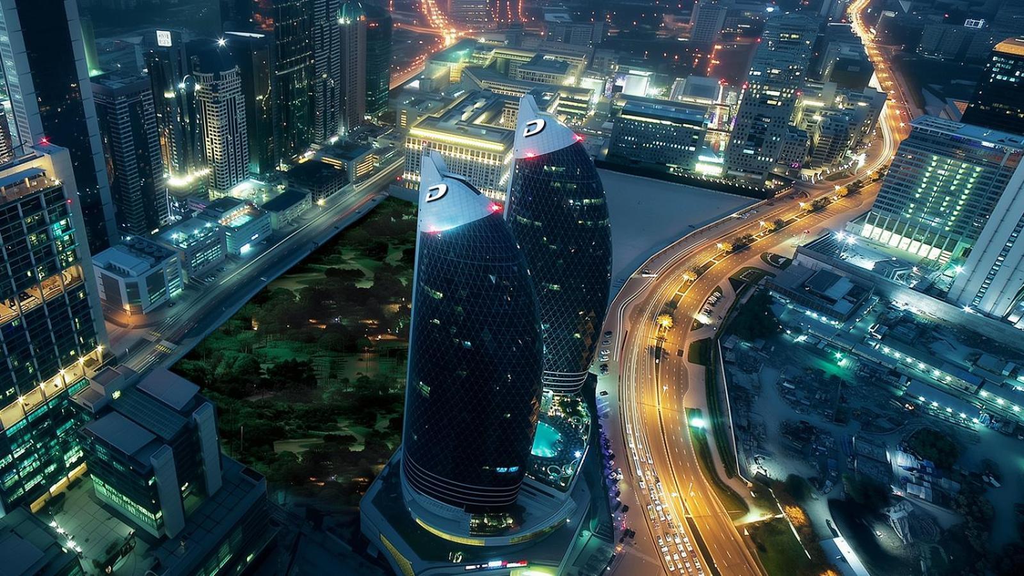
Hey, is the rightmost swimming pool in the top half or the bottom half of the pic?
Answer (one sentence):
The rightmost swimming pool is in the bottom half of the image.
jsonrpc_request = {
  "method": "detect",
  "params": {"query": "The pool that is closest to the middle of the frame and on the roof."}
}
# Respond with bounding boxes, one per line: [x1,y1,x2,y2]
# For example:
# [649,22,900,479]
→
[532,421,563,457]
